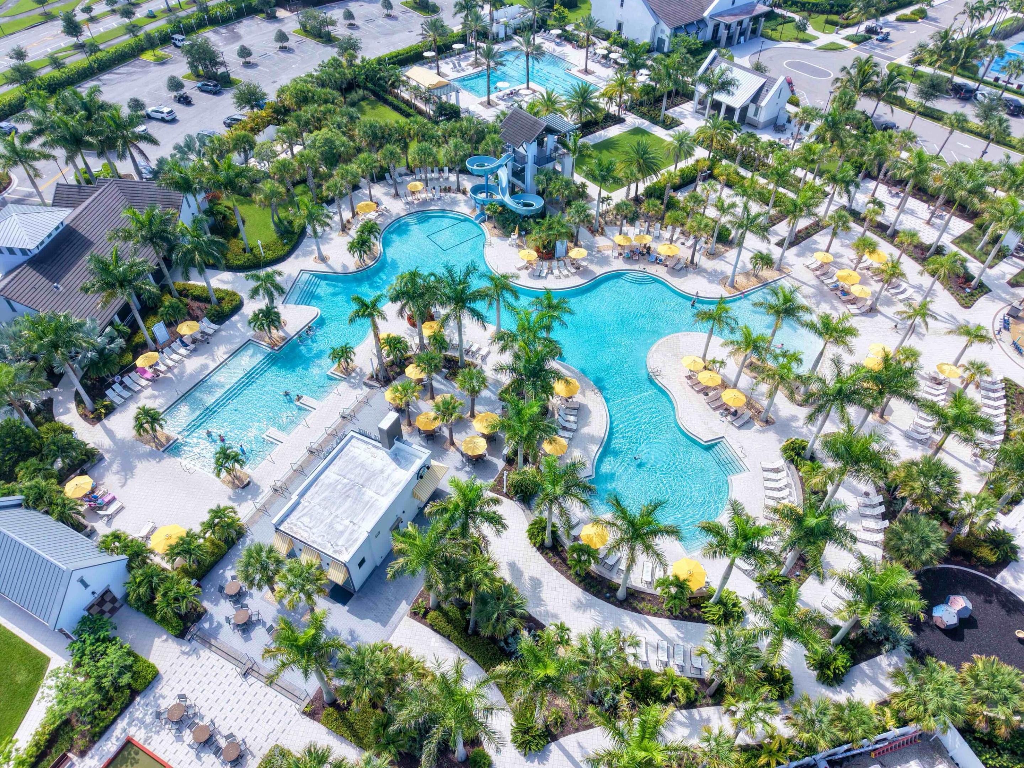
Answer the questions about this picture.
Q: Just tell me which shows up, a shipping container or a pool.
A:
pool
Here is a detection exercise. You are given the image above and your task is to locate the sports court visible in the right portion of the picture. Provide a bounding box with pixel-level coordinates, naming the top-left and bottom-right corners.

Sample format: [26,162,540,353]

[979,31,1024,83]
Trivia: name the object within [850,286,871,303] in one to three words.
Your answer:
umbrella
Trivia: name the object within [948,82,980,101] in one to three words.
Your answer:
car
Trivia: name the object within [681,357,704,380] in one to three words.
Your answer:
umbrella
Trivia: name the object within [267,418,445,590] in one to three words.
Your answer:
building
